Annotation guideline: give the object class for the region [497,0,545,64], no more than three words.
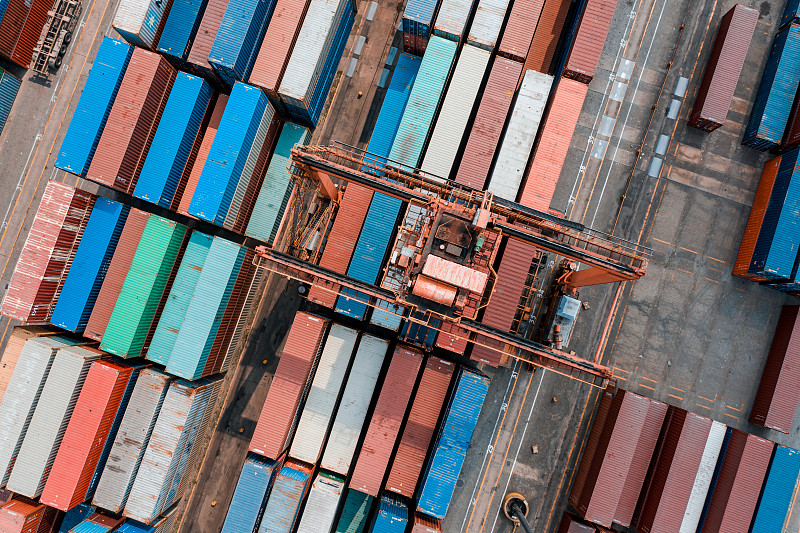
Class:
shipping container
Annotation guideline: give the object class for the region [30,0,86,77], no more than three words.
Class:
trailer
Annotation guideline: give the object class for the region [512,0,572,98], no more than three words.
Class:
shipping container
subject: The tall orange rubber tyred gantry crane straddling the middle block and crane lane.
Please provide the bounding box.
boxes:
[249,139,654,389]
